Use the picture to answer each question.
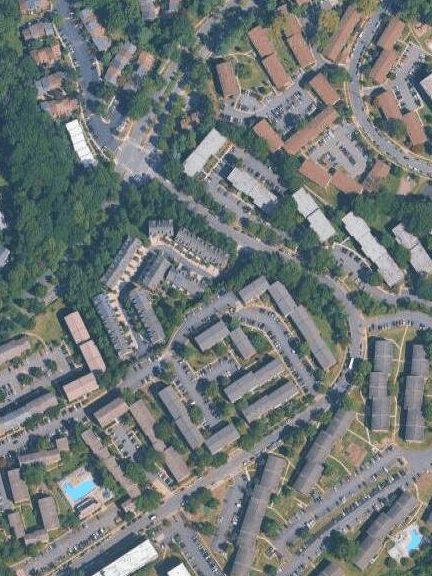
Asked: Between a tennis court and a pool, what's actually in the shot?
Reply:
pool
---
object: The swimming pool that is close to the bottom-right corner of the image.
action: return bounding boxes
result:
[388,525,424,565]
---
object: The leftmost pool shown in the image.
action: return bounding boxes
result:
[57,470,105,515]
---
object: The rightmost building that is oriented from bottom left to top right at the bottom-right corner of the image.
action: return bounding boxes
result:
[349,492,412,568]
